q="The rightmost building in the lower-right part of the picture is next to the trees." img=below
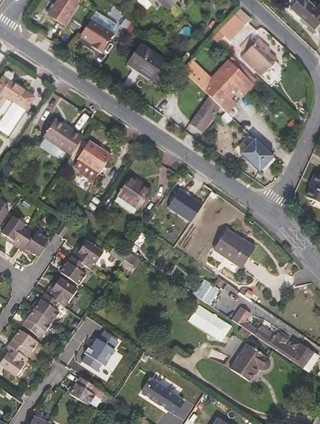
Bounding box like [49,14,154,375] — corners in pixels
[282,342,319,372]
